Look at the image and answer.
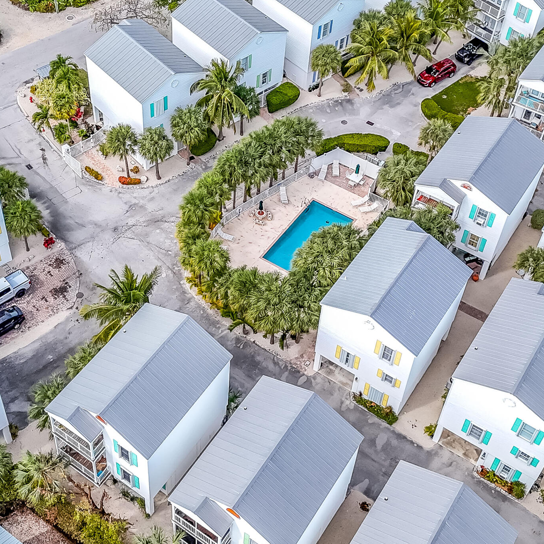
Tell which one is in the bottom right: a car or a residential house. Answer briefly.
residential house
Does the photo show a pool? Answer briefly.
Yes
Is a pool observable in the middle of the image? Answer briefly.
Yes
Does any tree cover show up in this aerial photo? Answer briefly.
Yes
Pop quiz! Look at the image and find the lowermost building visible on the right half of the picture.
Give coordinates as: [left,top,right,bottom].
[348,460,517,544]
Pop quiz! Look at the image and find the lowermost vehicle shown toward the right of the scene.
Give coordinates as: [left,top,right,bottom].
[415,54,460,85]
